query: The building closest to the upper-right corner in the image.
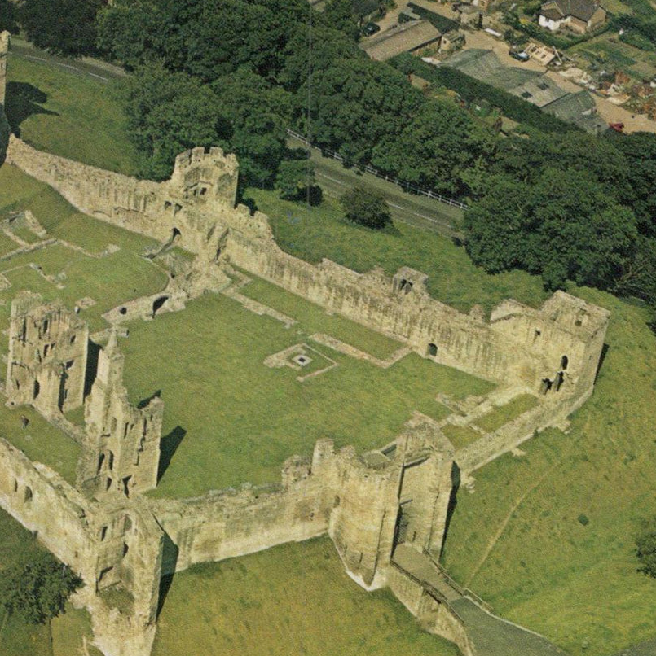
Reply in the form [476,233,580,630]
[539,0,594,33]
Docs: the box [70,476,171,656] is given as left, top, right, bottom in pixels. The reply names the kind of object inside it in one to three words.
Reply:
building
